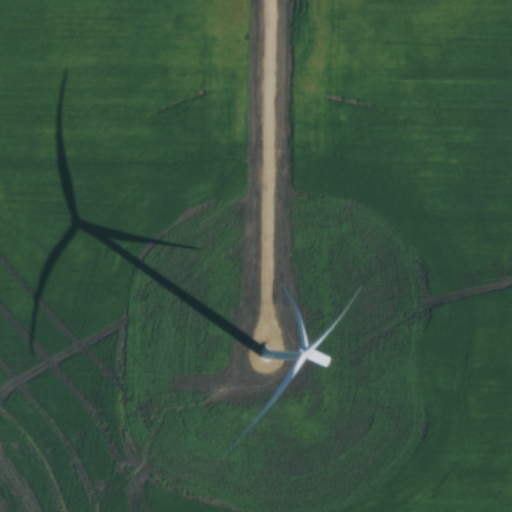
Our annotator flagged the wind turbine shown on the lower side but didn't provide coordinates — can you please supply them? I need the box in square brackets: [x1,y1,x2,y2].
[220,254,380,460]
